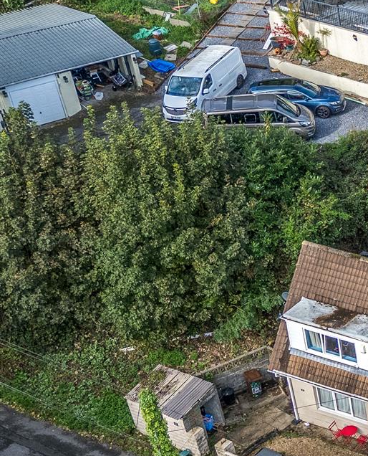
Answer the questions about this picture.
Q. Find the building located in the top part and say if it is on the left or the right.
left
